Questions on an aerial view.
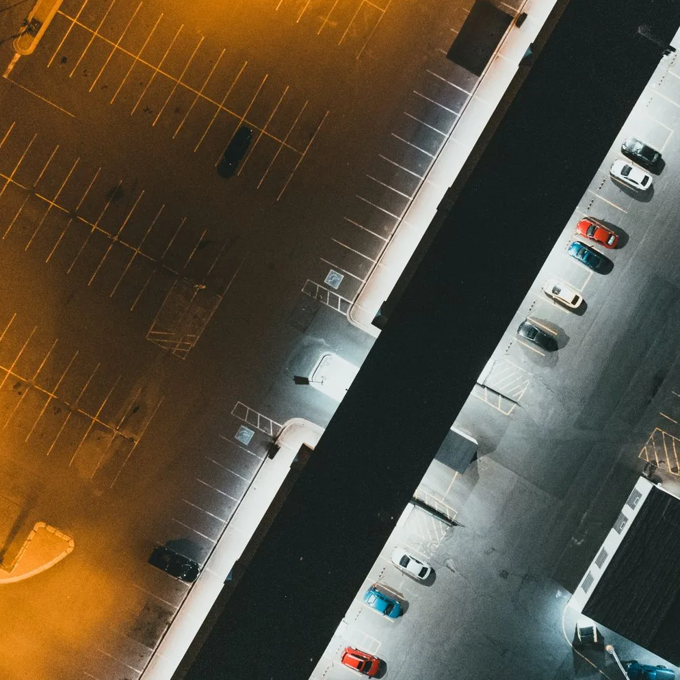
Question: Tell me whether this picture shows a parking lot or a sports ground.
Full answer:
It's a parking lot.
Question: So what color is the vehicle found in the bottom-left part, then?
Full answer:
In this view, the vehicle found in the bottom-left part is black.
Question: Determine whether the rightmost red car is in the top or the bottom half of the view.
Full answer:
You can find the rightmost red car in the top half.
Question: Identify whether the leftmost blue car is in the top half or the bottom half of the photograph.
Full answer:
It is in the bottom half that the leftmost blue car appears.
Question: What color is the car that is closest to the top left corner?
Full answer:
The color of the car that is closest to the top left corner is black.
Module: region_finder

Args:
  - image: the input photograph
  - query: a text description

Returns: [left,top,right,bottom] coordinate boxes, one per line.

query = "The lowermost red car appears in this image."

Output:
[340,644,383,679]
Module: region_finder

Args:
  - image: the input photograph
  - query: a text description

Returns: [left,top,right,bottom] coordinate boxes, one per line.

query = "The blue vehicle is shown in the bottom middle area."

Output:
[364,585,404,617]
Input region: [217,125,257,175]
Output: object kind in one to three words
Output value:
car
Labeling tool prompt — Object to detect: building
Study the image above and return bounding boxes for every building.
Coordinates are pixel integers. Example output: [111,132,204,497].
[574,477,680,671]
[165,0,680,680]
